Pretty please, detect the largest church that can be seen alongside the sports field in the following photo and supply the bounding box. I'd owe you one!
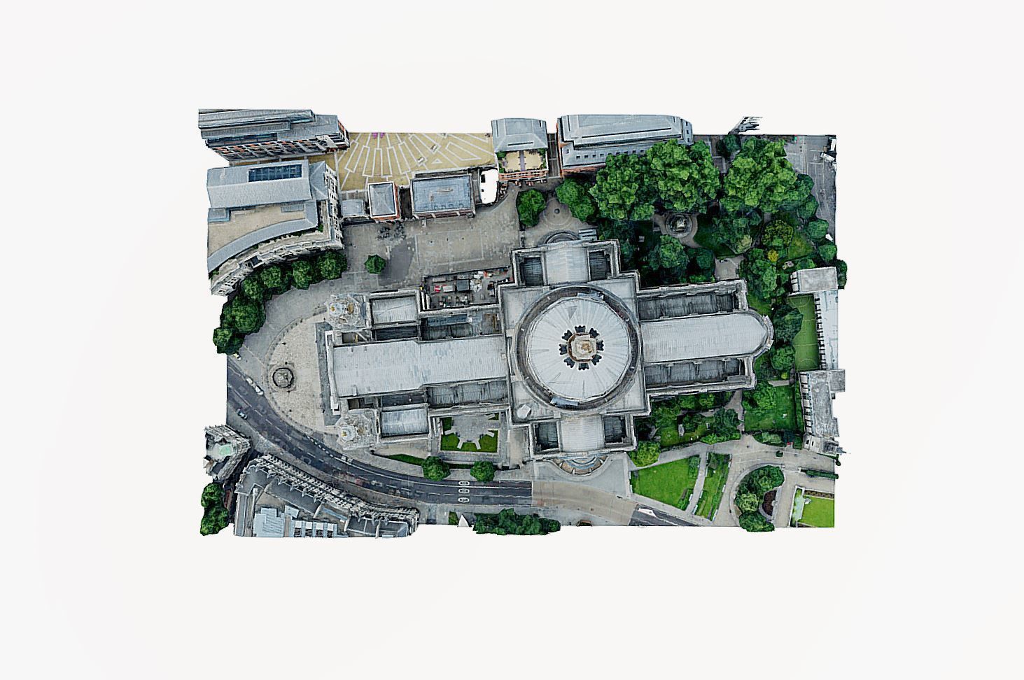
[317,222,770,482]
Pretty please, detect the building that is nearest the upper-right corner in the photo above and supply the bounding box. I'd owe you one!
[786,267,838,294]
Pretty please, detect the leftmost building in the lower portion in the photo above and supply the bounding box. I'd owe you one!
[202,425,250,487]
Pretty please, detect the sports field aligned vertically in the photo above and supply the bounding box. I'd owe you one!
[788,292,819,371]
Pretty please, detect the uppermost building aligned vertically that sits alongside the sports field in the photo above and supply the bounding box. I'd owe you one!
[810,290,839,370]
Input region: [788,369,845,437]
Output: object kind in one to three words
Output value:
building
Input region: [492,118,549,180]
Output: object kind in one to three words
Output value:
building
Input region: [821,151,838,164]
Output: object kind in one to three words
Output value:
vehicle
